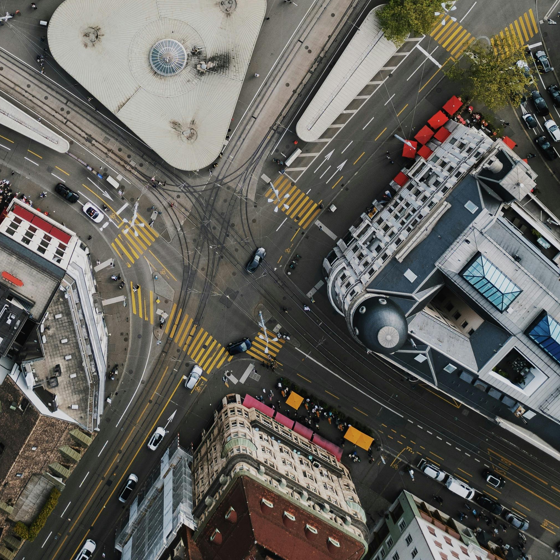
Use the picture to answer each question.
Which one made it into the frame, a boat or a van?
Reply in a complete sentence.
It is a van that can be seen here.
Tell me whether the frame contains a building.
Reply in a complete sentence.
Yes, there is a building in the image.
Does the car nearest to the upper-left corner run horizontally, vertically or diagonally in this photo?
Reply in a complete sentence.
In this picture, the car nearest to the upper-left corner lies diagonally.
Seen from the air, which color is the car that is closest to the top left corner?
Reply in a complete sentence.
In this view, the car that is closest to the top left corner is black.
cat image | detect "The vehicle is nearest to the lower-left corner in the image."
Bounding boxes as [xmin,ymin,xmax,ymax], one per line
[74,536,98,560]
